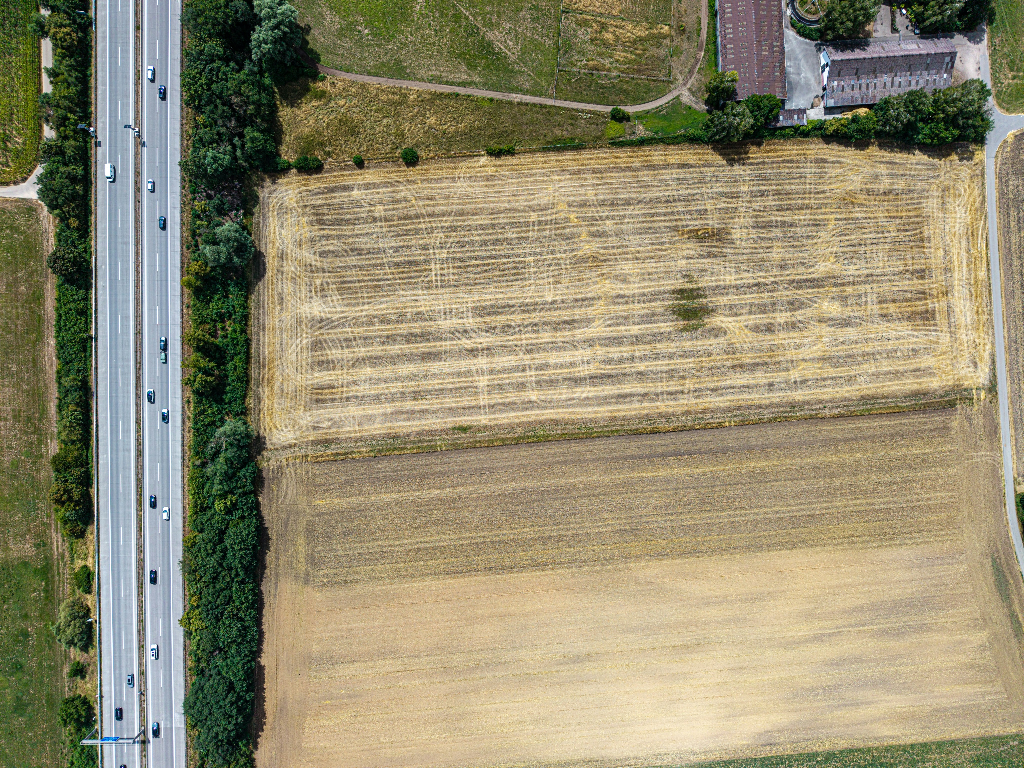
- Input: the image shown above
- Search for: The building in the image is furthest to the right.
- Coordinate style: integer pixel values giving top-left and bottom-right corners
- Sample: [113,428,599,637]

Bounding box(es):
[818,39,957,111]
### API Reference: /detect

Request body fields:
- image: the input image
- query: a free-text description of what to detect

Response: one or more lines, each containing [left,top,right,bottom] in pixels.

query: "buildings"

[818,39,957,111]
[714,0,788,104]
[774,109,807,128]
